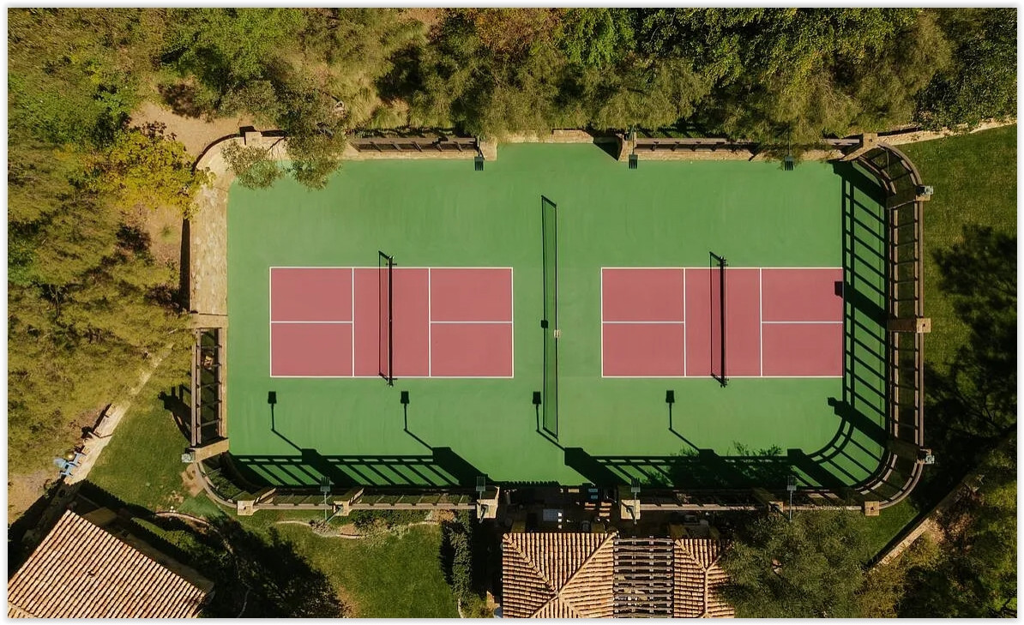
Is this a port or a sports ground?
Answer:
sports ground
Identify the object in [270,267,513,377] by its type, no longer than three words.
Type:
sports court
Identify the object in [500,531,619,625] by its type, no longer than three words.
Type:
building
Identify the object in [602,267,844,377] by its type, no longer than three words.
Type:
sports court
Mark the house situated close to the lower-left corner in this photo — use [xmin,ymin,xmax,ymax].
[0,506,225,625]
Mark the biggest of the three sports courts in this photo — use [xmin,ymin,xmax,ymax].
[227,143,887,490]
